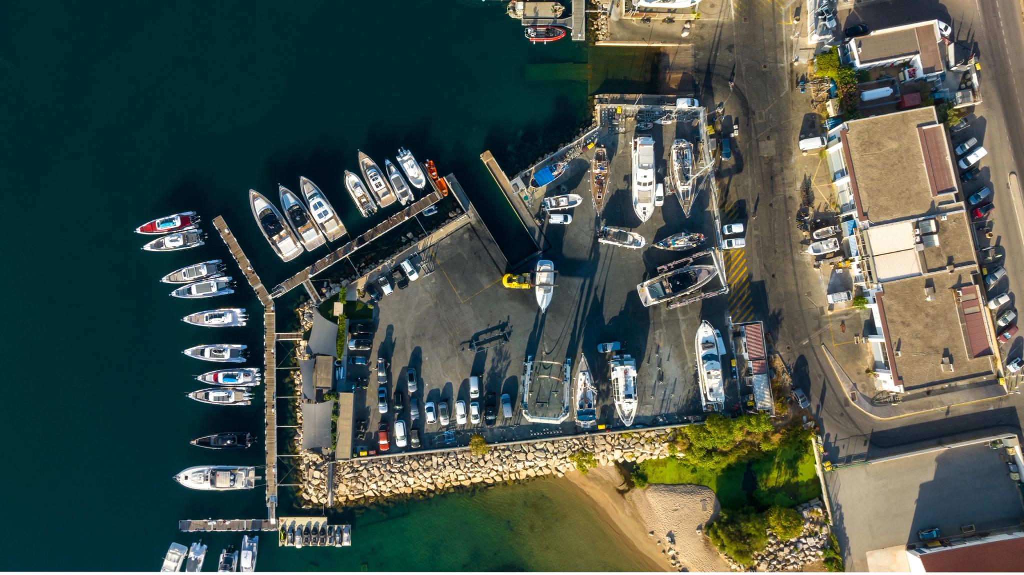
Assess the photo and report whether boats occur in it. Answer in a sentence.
Yes, there is a boat in the image.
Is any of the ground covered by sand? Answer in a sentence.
Yes, sand can be seen from above here.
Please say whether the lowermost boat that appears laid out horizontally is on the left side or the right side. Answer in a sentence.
The lowermost boat that appears laid out horizontally sits on the left side.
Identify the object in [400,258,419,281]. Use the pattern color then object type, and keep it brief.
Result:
white car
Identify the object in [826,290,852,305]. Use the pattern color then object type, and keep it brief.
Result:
white vehicle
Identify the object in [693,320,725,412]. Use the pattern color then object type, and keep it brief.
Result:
white boat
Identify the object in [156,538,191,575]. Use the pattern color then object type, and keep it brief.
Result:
white boat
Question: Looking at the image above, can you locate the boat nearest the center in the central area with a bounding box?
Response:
[535,260,554,315]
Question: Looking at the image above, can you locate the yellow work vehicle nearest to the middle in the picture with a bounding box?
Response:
[503,272,558,289]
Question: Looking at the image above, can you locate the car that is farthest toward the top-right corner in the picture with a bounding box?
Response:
[936,20,953,39]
